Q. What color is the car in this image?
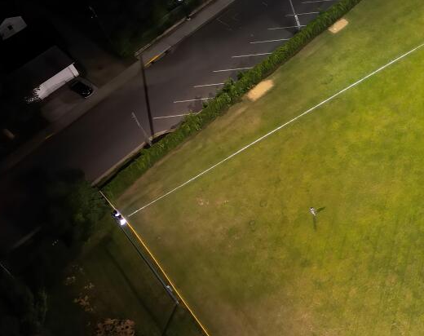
black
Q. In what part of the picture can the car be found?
top left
